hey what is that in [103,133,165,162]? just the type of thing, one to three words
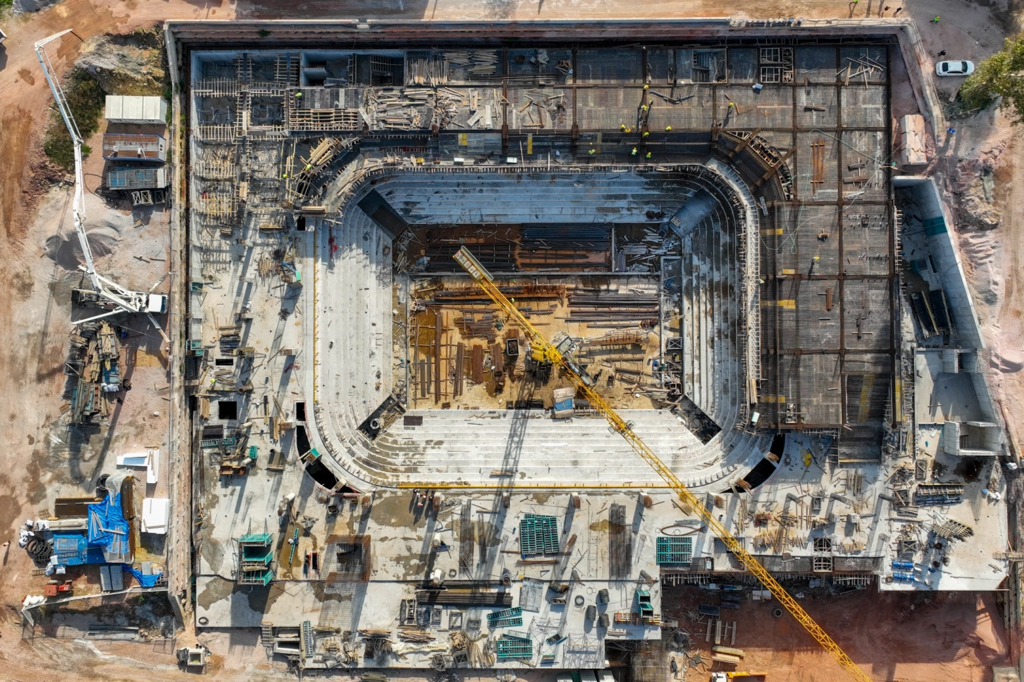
building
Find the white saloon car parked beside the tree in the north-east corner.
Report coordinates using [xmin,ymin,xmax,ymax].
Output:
[935,57,975,77]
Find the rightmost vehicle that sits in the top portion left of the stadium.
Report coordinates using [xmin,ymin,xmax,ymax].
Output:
[32,25,177,344]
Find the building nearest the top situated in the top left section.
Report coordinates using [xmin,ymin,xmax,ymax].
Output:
[105,96,166,123]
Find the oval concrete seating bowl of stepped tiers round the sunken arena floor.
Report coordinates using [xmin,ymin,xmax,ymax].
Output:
[304,144,769,496]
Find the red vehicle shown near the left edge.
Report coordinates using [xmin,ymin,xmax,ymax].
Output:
[44,580,73,599]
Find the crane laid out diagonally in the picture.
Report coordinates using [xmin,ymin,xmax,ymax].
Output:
[441,236,877,682]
